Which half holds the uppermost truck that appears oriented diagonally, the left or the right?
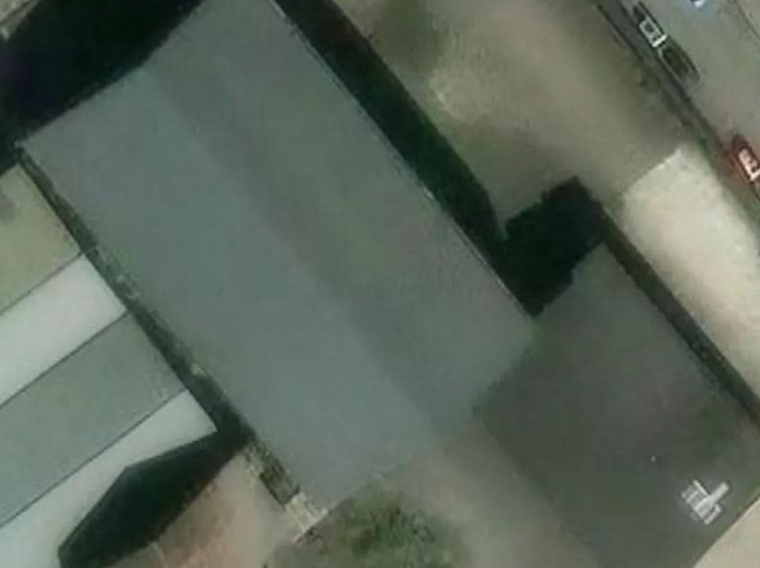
right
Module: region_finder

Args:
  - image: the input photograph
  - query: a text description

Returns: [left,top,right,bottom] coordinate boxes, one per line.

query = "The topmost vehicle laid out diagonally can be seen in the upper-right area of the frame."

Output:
[633,4,677,53]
